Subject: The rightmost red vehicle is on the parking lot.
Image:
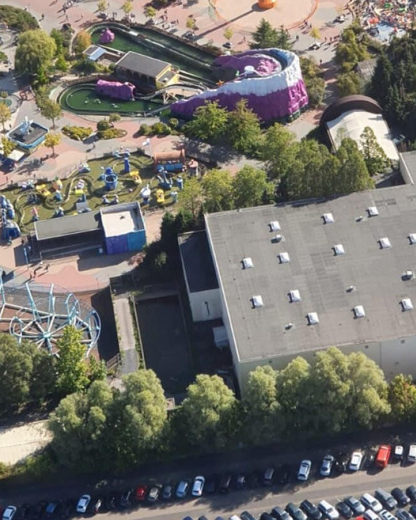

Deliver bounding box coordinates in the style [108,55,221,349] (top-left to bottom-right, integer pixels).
[376,441,392,468]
